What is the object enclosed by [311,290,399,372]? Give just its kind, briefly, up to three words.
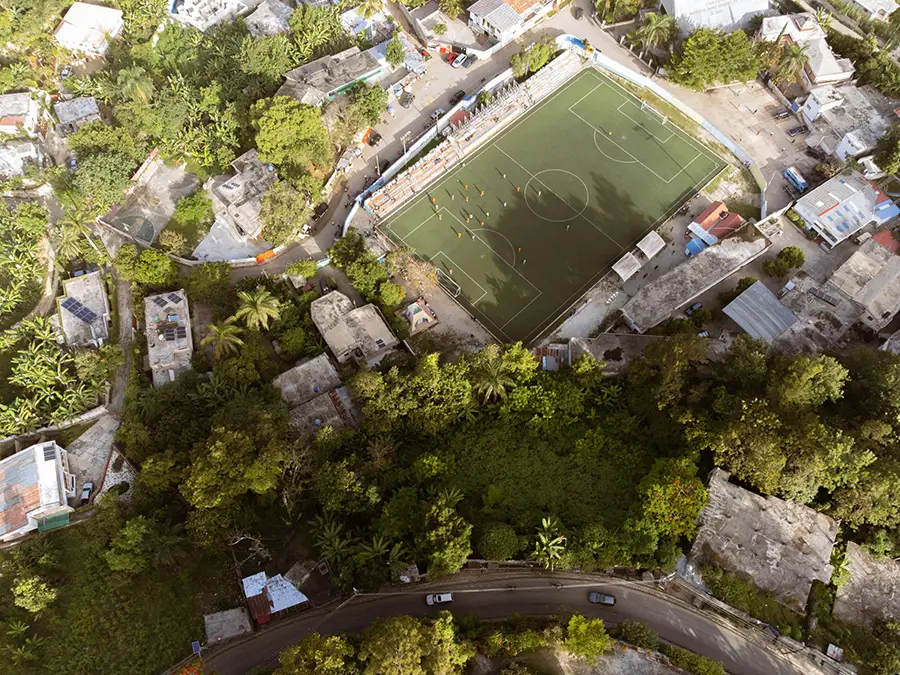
house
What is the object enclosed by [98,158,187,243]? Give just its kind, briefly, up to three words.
basketball court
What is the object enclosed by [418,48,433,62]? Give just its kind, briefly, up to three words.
vehicle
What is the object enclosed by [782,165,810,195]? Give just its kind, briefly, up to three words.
bus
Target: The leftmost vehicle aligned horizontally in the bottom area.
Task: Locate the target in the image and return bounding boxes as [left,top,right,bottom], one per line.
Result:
[425,593,454,606]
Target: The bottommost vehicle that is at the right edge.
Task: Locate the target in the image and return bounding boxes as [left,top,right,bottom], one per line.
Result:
[853,232,873,248]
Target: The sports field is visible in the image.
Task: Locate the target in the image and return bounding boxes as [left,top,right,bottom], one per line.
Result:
[377,63,731,350]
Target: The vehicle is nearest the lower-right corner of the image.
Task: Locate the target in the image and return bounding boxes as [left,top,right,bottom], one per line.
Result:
[589,592,615,606]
